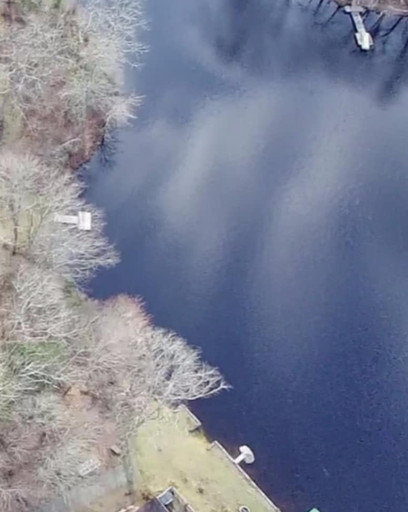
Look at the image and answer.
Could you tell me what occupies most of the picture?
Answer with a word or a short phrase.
water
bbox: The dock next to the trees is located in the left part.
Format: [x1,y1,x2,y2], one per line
[55,212,93,232]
